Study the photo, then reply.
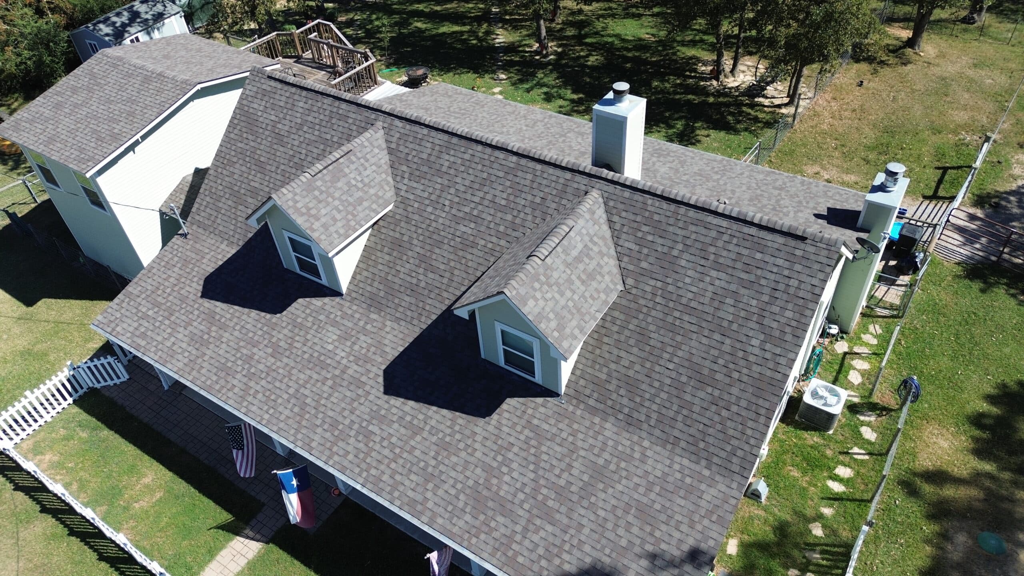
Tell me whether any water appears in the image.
No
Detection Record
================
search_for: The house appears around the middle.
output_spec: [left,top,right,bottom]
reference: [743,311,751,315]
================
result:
[88,65,911,576]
